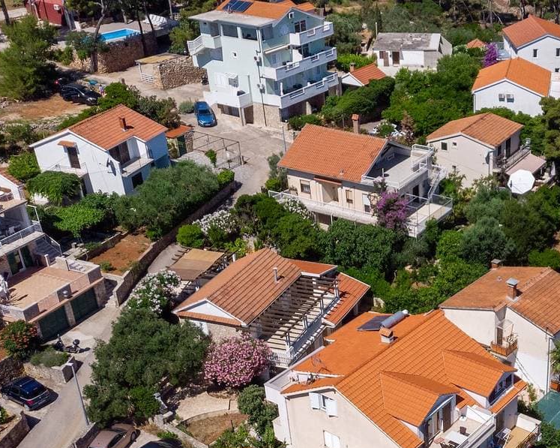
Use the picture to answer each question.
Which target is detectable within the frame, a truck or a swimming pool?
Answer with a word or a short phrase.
swimming pool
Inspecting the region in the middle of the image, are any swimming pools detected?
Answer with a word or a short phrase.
No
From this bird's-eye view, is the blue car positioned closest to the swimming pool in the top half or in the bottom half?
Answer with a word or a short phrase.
top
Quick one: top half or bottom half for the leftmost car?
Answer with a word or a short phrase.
bottom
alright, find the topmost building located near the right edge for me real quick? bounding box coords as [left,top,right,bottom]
[502,16,560,89]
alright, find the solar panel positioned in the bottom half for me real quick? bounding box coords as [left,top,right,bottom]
[358,315,392,330]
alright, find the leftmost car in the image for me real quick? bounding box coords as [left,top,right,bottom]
[0,376,48,408]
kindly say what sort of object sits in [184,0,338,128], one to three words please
house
